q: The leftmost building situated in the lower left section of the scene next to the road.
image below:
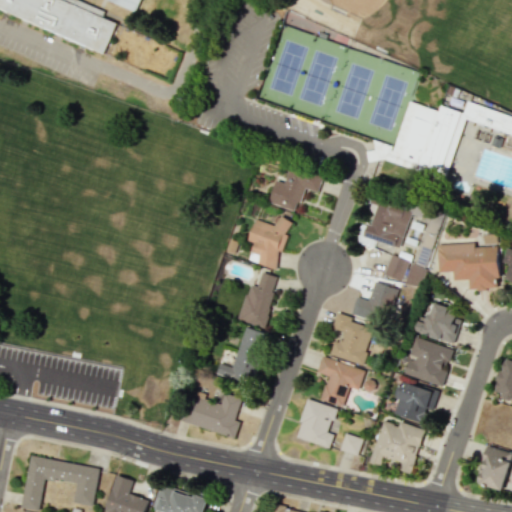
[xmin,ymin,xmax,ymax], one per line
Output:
[20,455,98,512]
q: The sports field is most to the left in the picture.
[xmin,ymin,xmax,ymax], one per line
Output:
[0,67,262,432]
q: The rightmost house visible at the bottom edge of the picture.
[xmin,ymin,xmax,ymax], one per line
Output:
[478,447,511,491]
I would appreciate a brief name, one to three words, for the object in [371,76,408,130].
tennis court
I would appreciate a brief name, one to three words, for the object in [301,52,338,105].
tennis court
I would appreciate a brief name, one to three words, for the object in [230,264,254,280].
swimming pool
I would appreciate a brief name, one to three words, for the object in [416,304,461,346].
house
